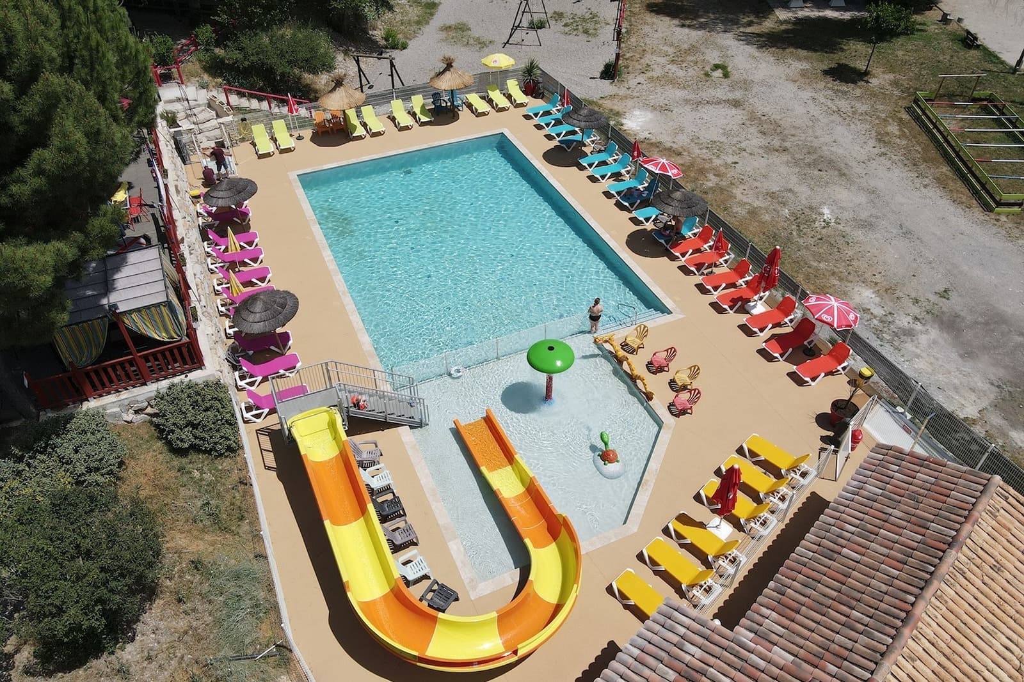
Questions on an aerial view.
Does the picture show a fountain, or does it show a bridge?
fountain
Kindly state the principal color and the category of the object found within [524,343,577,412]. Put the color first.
green fountain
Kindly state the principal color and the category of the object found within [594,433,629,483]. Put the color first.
white fountain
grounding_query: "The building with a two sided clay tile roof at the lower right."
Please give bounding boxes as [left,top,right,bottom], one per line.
[725,443,1024,682]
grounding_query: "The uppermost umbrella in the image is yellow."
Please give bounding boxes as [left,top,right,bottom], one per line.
[474,51,508,69]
